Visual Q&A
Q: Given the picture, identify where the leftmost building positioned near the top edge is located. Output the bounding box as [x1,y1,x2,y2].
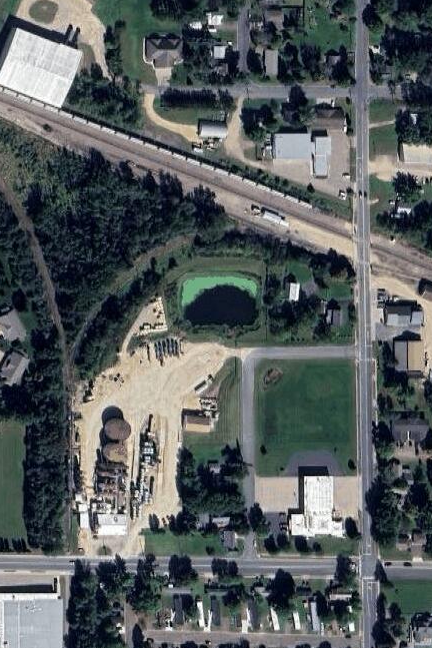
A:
[0,28,81,108]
